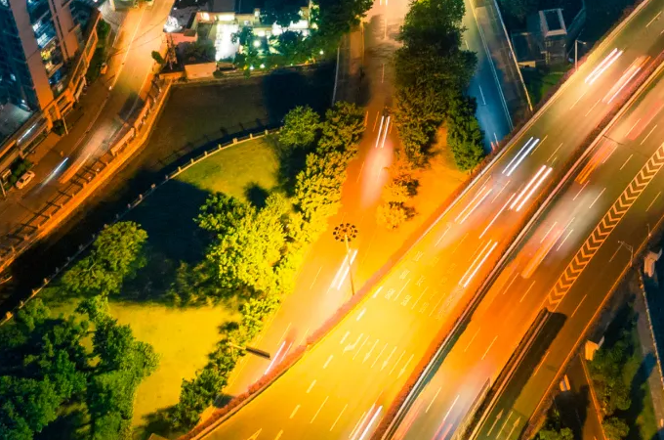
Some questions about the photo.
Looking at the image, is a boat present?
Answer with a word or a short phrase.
No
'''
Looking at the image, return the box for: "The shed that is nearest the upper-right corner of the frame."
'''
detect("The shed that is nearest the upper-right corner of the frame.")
[540,2,576,57]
